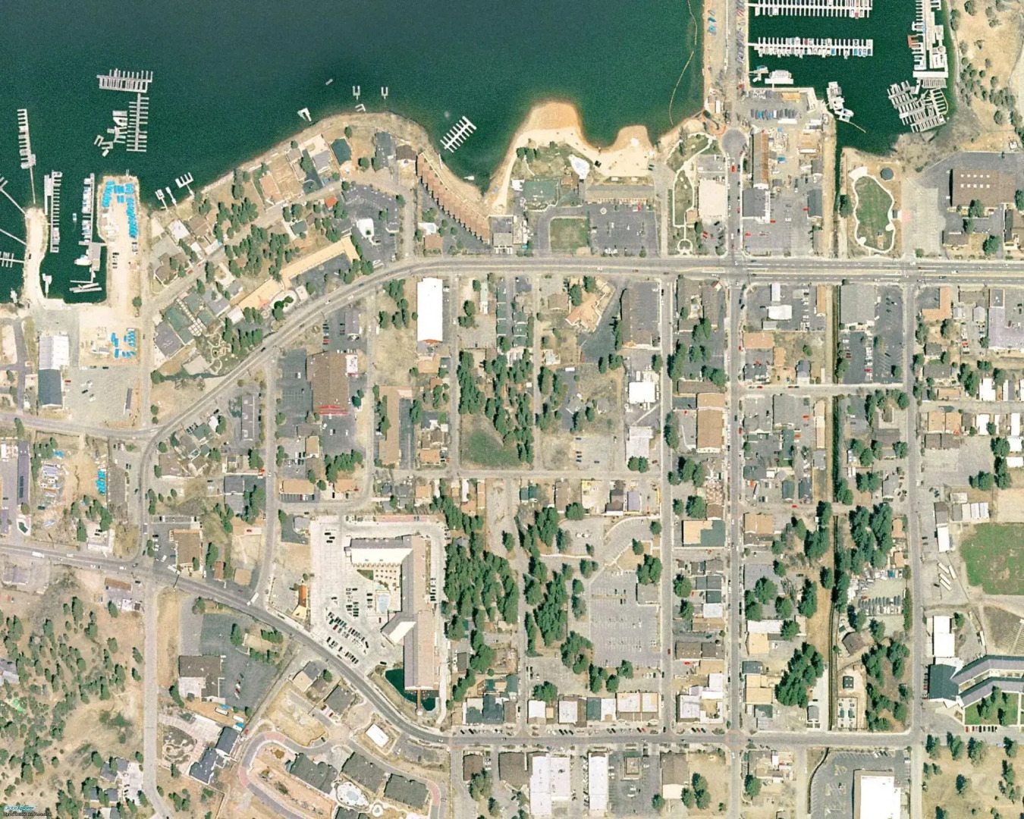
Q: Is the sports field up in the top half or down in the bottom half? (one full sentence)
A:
The bottom half of the photo is where the sports field is.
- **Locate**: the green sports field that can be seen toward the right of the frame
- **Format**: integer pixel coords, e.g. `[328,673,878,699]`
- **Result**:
[961,522,1024,596]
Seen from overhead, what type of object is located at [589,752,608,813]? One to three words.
building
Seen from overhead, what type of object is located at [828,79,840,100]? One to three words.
boat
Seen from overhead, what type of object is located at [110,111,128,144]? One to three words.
pier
